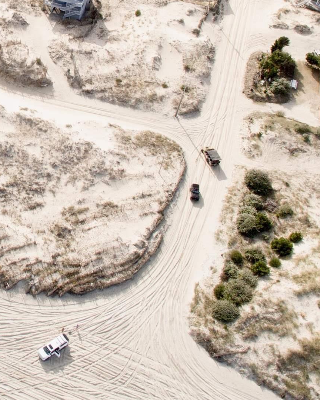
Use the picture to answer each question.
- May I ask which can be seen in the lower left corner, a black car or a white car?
white car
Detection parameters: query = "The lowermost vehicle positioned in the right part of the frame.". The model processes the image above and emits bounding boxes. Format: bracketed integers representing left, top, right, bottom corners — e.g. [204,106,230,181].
[190,179,202,200]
